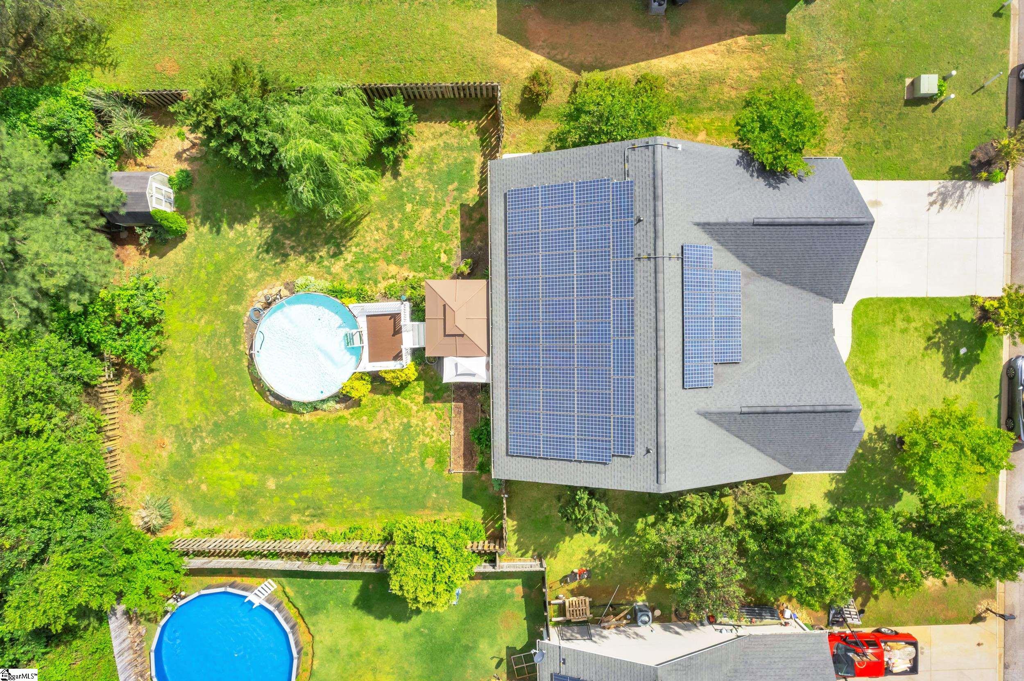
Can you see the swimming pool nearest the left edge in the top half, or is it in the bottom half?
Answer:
bottom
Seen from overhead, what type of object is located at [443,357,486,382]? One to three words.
tent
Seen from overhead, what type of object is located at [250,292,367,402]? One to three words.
swimming pool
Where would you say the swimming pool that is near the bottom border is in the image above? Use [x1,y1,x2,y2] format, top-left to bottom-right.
[154,586,304,681]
